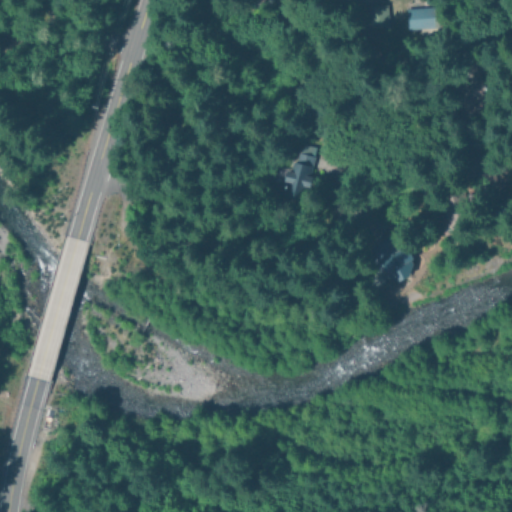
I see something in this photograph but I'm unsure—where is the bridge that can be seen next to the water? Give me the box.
[27,232,92,384]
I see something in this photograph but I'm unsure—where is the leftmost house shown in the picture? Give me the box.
[284,143,319,196]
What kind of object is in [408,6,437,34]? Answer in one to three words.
house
